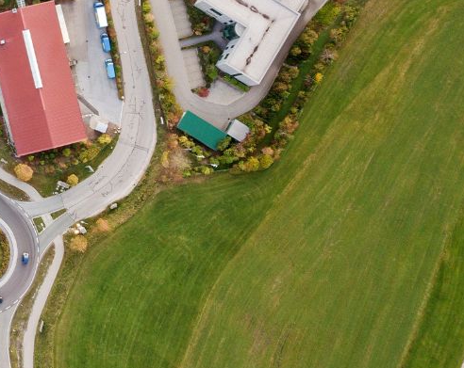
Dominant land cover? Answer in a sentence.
Most of the picture is covered by grass.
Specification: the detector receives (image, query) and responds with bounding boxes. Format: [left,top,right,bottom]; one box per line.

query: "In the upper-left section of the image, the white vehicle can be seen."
[96,0,109,25]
